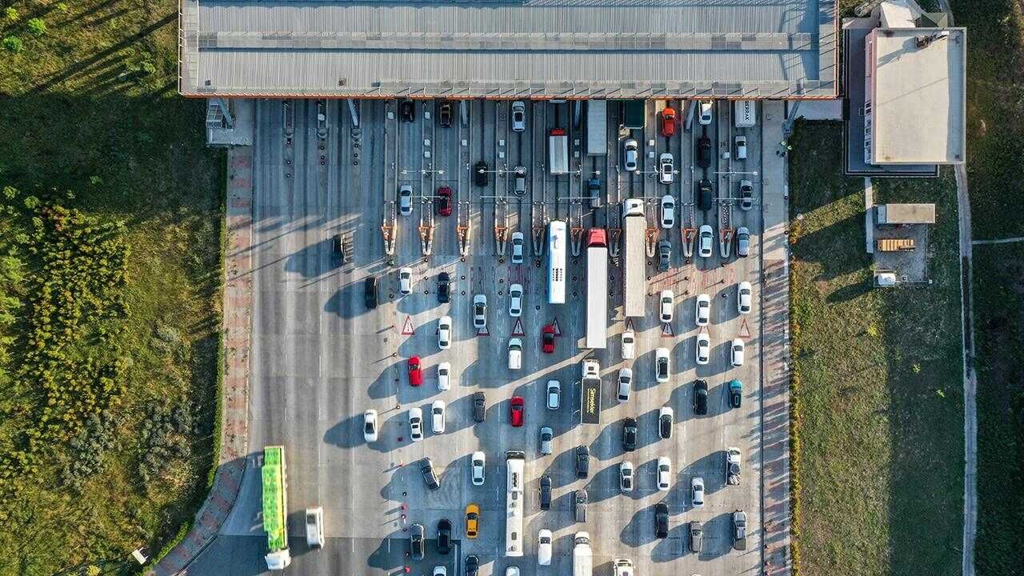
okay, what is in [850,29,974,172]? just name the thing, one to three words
building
